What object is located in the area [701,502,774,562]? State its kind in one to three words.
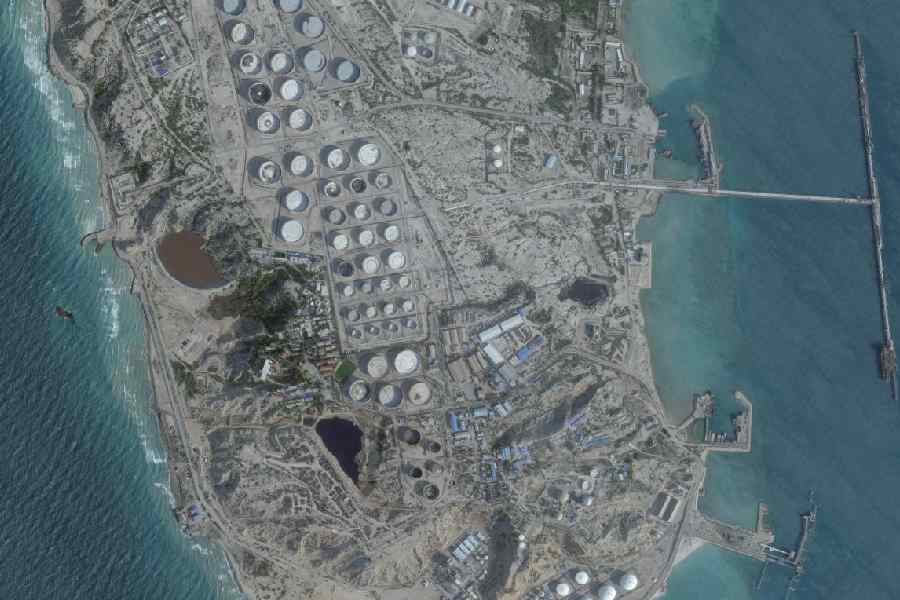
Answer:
pier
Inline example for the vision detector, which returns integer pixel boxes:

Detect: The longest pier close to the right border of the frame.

[853,30,889,345]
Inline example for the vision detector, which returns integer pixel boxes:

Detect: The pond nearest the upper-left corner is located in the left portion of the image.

[159,232,233,289]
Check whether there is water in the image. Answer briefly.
Yes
